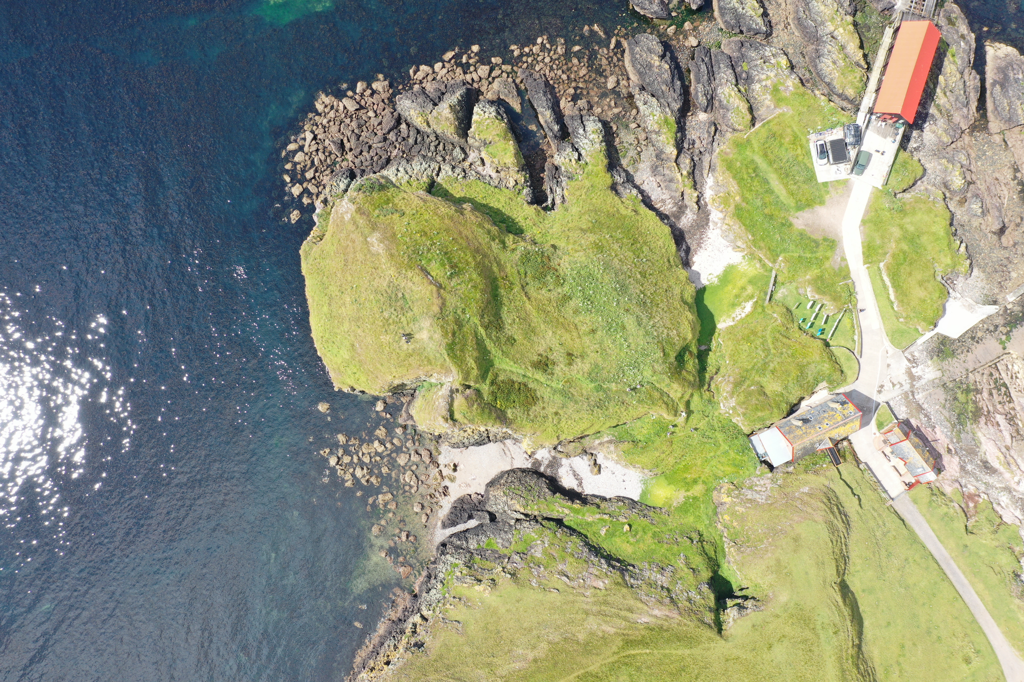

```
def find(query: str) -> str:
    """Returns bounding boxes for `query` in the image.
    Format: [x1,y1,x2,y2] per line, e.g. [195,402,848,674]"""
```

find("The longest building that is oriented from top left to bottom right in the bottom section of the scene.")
[877,422,937,484]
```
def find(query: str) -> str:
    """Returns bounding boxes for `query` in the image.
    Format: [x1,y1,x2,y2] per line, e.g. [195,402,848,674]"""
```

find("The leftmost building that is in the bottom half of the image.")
[746,393,862,468]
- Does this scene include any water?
Yes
